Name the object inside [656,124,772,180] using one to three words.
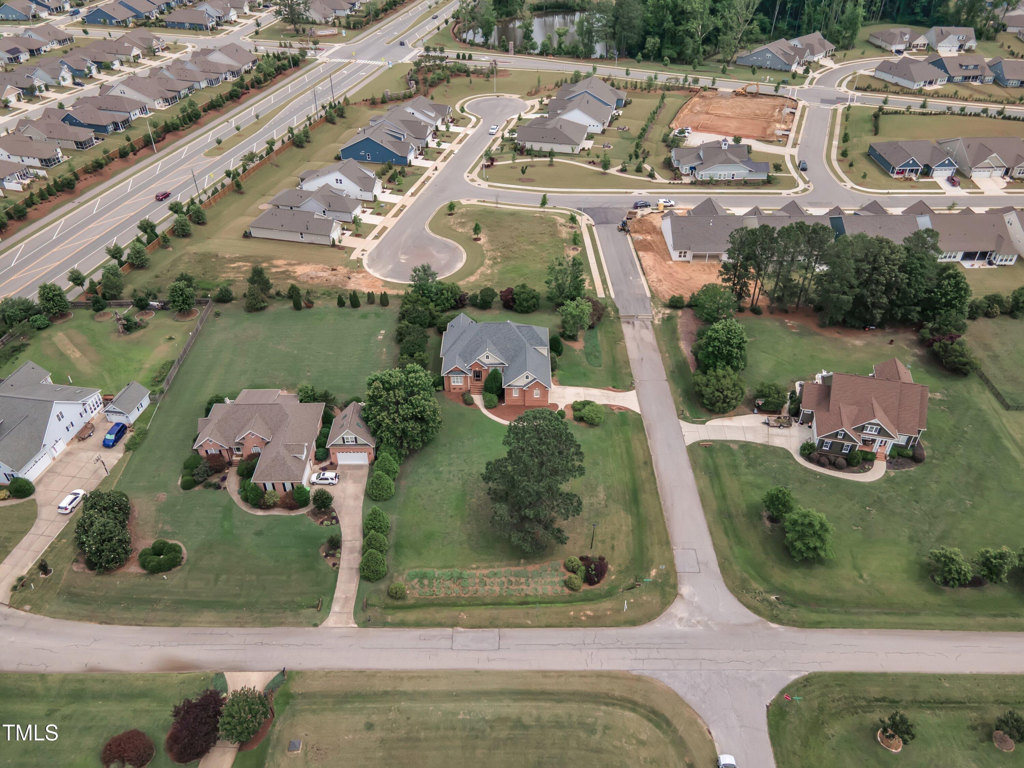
building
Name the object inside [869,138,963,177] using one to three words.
house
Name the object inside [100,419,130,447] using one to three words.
car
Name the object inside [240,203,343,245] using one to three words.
house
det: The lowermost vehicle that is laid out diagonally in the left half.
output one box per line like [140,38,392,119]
[53,490,90,516]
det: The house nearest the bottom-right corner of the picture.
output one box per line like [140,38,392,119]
[796,356,933,462]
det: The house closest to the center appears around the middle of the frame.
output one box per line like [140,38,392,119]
[439,313,552,407]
